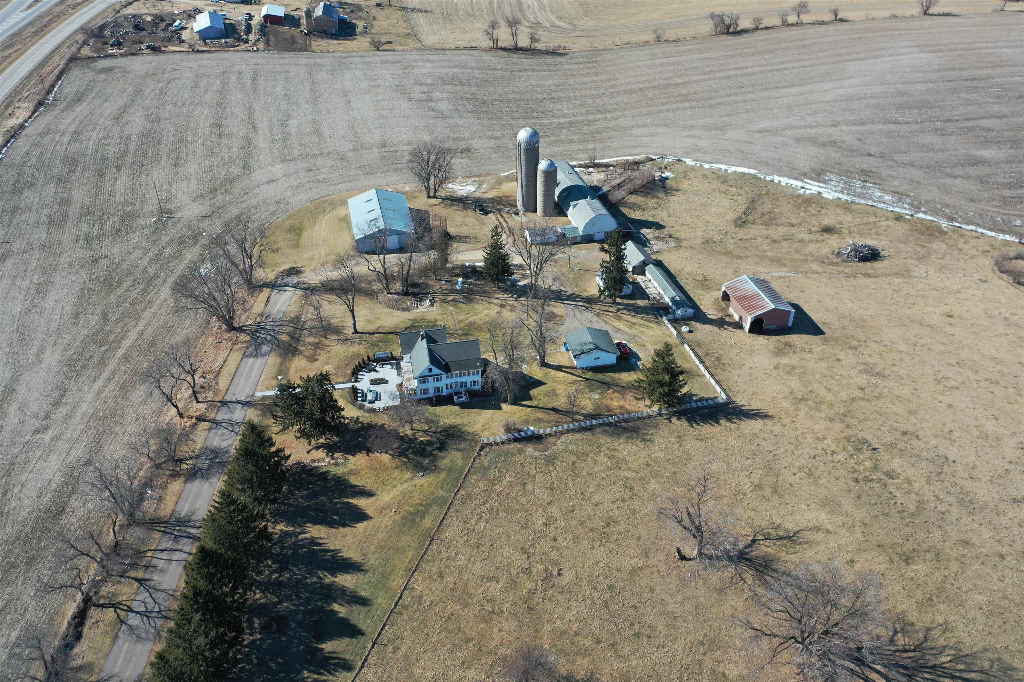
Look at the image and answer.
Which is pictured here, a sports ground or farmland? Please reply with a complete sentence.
It's farmland.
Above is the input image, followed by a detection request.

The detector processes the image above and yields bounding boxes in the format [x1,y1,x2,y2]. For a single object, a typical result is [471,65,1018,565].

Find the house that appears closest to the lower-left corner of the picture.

[398,323,484,401]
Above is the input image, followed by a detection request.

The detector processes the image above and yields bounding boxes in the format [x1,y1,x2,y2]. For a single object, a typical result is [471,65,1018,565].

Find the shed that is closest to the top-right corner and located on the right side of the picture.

[720,274,796,331]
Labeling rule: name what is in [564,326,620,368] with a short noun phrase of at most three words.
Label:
building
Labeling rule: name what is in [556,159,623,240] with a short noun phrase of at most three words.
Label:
barn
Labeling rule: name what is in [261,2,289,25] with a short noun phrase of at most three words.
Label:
barn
